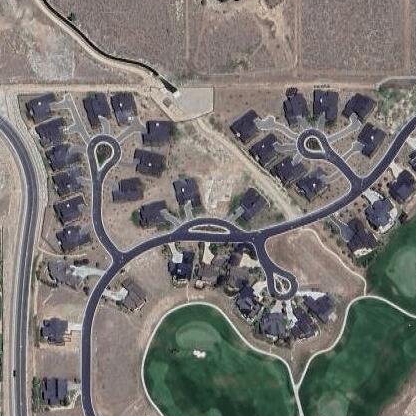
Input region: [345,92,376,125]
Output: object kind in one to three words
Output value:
house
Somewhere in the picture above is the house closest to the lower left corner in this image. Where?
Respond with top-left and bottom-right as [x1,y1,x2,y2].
[42,380,68,406]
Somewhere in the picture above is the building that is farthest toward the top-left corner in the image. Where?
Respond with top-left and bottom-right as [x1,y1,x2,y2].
[25,96,54,123]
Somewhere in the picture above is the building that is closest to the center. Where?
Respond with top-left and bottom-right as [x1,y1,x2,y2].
[173,177,201,206]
